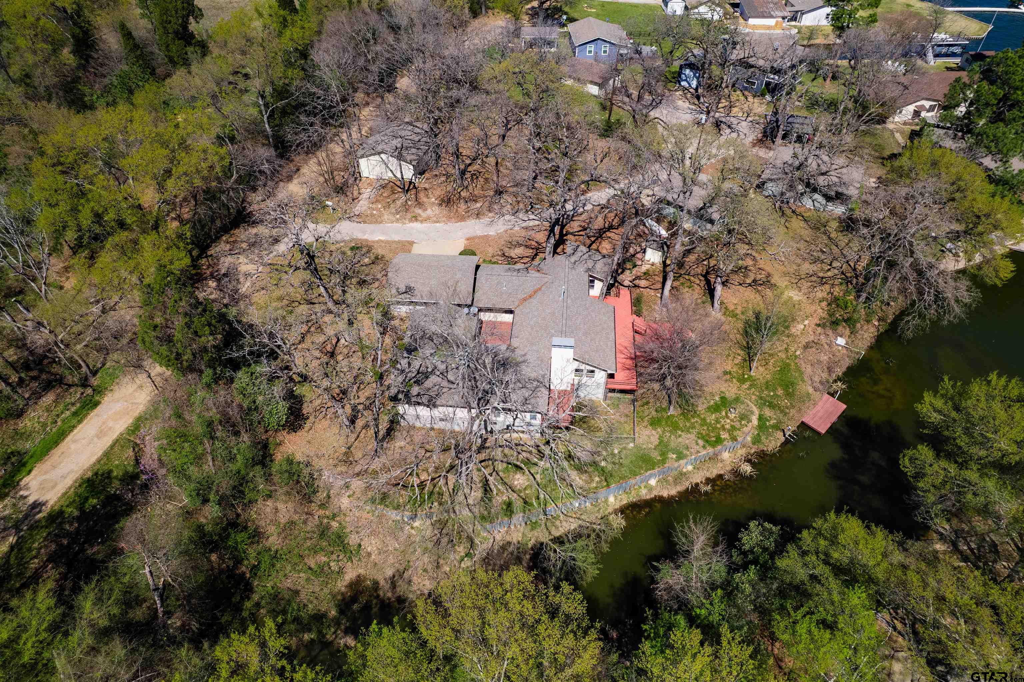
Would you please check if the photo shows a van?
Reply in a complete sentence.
No, no van is visible in the view.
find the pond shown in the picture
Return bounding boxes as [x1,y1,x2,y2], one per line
[298,256,1024,682]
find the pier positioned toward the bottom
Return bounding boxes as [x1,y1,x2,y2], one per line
[800,395,847,436]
